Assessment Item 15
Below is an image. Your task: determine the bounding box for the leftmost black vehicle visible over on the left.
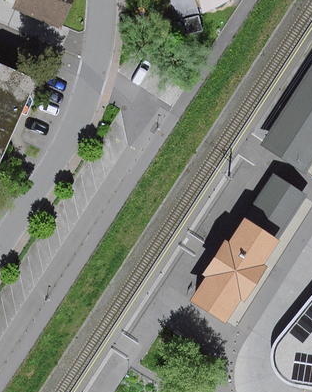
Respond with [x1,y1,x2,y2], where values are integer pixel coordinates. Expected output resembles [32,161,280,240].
[25,118,50,134]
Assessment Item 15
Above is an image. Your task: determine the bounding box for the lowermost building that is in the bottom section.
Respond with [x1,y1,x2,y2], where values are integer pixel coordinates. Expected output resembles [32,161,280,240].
[192,218,280,323]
